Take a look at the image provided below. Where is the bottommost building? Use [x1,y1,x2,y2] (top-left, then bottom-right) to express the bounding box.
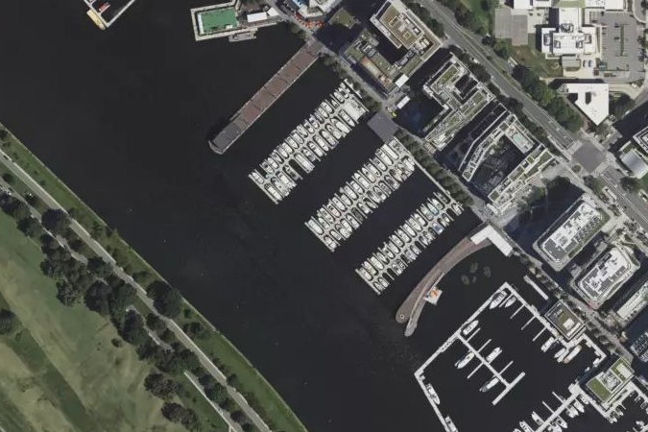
[587,357,634,406]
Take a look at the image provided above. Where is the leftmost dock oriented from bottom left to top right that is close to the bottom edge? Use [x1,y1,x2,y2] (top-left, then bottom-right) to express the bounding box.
[414,282,521,432]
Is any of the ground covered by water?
Yes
